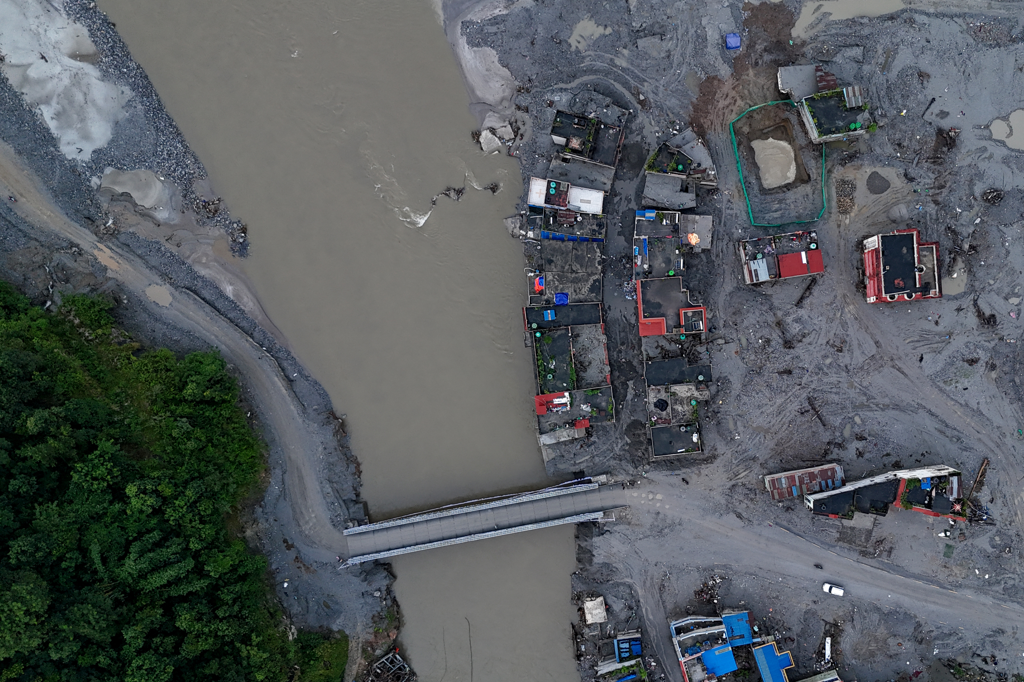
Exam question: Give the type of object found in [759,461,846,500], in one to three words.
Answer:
shed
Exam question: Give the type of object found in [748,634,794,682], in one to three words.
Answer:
house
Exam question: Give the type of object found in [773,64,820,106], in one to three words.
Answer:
house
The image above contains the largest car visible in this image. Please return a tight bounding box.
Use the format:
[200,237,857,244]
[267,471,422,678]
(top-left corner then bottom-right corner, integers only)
[824,584,846,599]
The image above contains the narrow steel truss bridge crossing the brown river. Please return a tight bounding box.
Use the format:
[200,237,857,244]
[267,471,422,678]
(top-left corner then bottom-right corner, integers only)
[339,480,630,569]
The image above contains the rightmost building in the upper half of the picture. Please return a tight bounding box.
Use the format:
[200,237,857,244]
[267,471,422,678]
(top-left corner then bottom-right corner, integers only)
[852,228,943,304]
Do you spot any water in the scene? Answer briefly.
Yes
